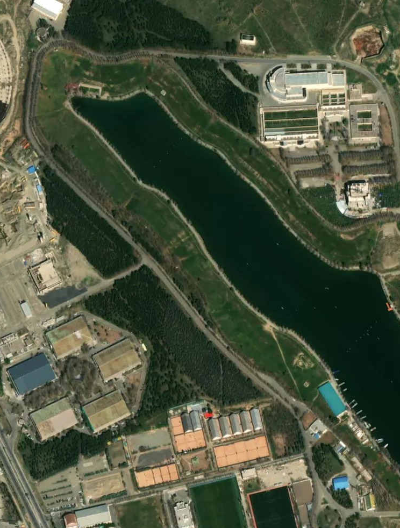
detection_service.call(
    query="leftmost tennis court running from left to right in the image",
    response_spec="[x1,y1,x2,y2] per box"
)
[135,463,180,488]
